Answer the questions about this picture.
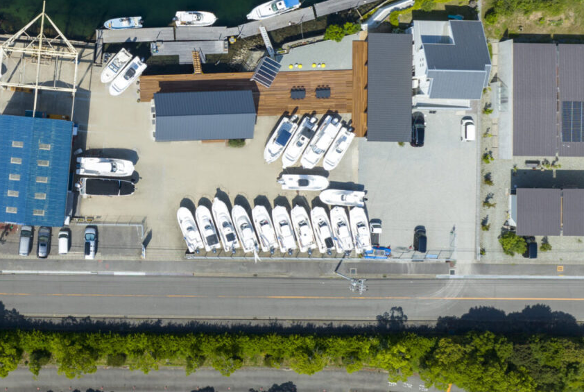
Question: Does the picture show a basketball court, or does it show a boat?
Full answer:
I can see a boat in this picture.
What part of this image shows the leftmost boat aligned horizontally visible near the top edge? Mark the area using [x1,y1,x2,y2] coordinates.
[104,17,147,29]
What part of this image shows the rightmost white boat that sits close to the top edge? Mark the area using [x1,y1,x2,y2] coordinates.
[247,0,302,18]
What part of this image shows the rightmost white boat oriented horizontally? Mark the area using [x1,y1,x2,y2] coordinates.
[321,190,370,206]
